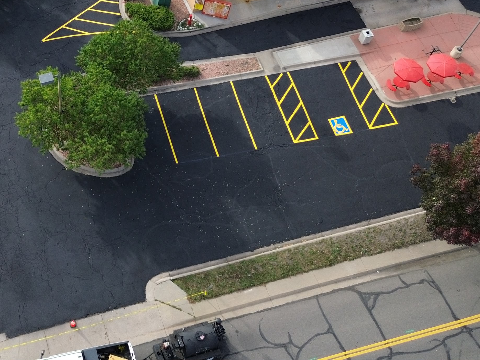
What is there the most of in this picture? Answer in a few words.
paved ground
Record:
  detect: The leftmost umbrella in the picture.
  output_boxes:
[392,59,428,86]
